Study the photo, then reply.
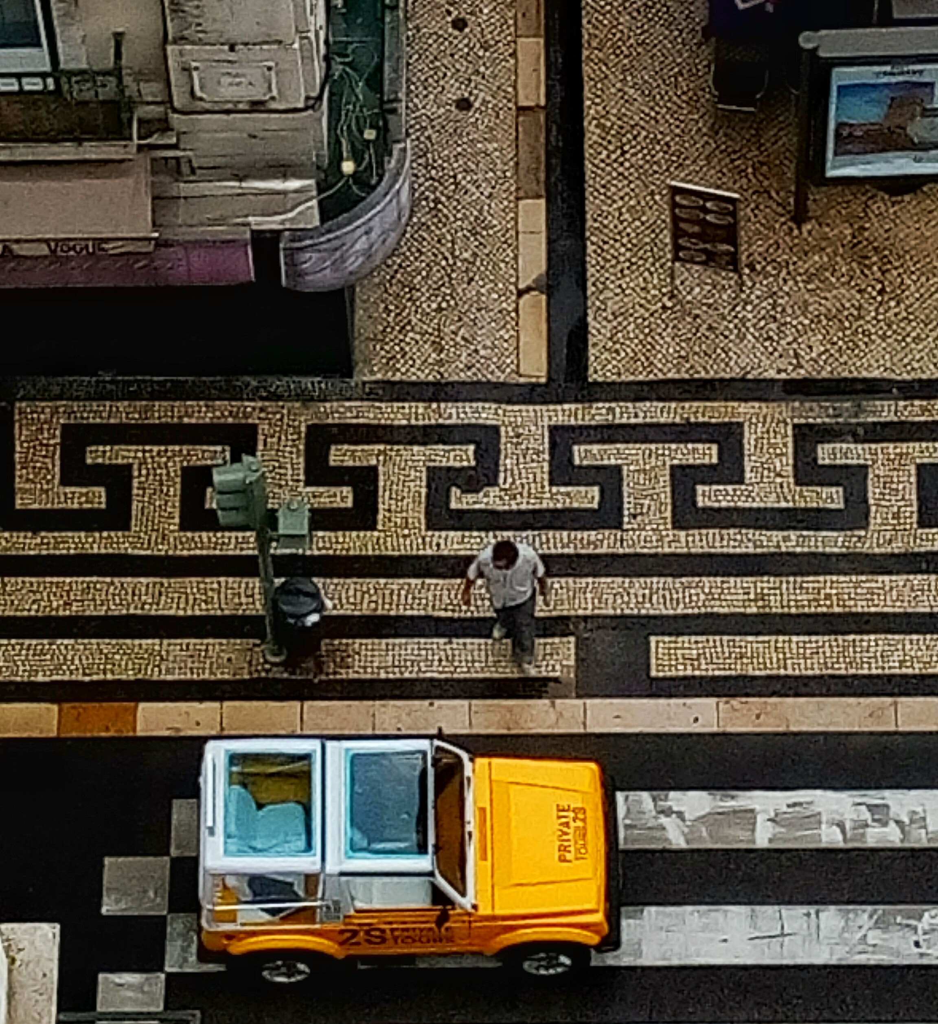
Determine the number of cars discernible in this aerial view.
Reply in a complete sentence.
Just 1 car appears in this view.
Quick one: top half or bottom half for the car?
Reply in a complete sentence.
The car sits in the bottom half of the picture.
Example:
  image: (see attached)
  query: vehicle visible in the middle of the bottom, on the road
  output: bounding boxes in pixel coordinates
[193,729,620,977]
